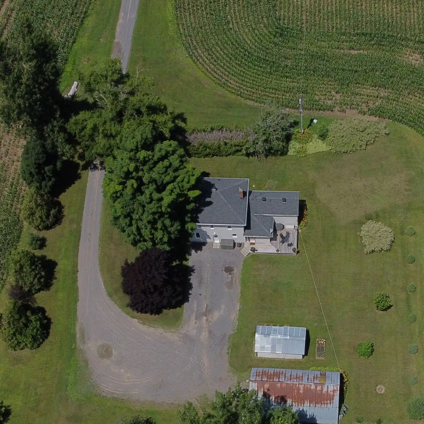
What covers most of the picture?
grass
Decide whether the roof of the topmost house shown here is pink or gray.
gray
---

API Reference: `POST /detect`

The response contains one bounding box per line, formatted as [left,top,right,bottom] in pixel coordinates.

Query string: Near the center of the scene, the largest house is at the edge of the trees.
[183,176,298,242]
